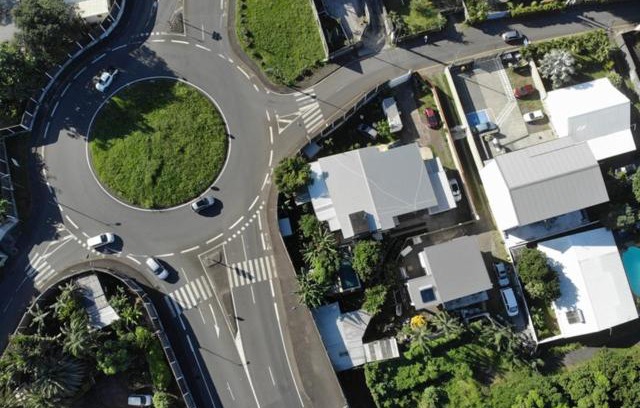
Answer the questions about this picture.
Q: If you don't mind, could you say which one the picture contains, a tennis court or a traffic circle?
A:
traffic circle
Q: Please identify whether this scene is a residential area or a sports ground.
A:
residential area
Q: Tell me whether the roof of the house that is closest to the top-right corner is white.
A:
Yes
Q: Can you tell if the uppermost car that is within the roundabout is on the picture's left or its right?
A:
left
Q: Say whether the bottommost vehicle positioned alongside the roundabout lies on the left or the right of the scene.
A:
left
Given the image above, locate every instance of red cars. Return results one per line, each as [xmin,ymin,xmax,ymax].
[512,84,536,97]
[424,107,438,129]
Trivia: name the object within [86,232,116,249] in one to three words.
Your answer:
vehicle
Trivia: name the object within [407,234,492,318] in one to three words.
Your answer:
house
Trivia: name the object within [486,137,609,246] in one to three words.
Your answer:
house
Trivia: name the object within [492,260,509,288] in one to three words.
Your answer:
car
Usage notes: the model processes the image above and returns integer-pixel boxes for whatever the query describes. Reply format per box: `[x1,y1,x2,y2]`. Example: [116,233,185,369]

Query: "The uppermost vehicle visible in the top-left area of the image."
[95,67,117,91]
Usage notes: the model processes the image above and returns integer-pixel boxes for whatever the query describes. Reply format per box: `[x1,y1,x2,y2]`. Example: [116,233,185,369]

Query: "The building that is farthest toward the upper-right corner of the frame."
[538,77,636,161]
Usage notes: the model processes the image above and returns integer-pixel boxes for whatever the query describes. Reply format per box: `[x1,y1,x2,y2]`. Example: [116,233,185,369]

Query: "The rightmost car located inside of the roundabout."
[191,196,216,213]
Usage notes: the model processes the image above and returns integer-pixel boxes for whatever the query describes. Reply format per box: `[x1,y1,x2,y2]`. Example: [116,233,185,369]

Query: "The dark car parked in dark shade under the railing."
[357,122,379,140]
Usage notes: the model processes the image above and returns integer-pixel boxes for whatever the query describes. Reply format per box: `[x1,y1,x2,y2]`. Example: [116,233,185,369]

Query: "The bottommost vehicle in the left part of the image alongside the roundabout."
[145,254,168,280]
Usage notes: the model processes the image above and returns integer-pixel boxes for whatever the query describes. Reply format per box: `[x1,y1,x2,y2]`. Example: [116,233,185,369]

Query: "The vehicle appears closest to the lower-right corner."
[499,287,519,316]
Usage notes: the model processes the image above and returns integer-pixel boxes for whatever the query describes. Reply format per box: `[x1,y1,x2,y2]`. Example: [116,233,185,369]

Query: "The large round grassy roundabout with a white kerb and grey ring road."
[45,41,272,257]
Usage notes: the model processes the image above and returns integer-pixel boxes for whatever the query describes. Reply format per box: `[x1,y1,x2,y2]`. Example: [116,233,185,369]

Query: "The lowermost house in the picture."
[312,303,371,371]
